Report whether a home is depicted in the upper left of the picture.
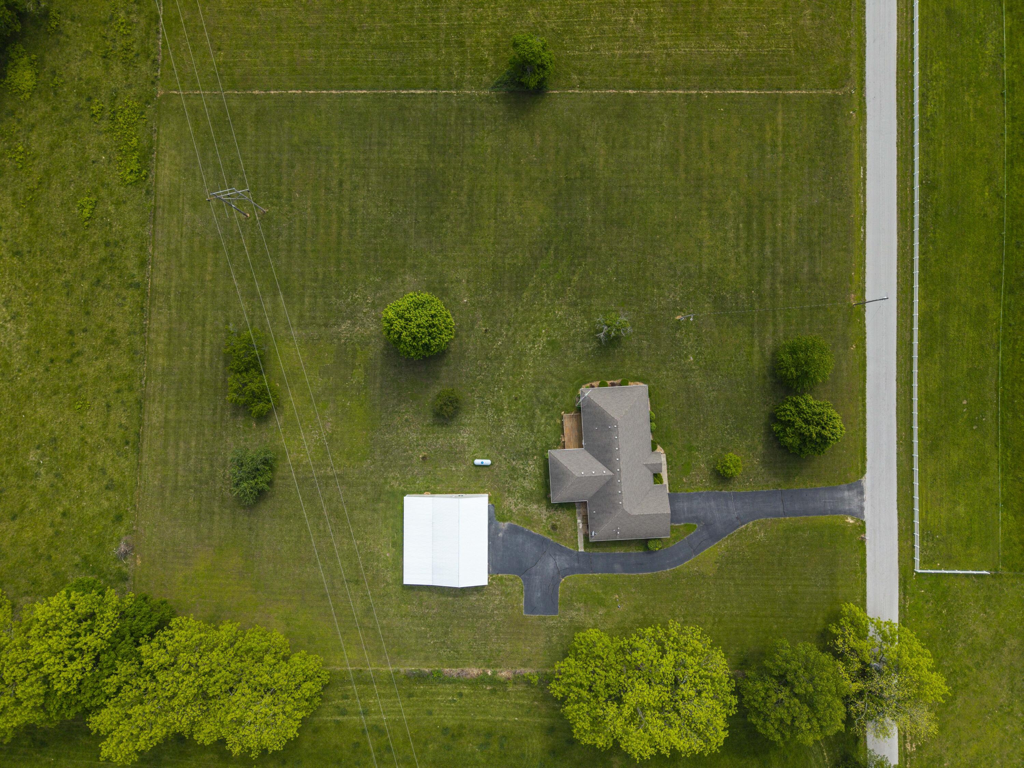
No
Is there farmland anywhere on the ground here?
Yes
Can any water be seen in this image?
No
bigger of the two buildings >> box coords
[548,384,672,542]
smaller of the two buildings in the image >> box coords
[404,494,489,588]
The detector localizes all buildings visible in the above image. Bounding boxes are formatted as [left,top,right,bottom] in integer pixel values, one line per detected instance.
[548,384,672,542]
[404,494,489,588]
